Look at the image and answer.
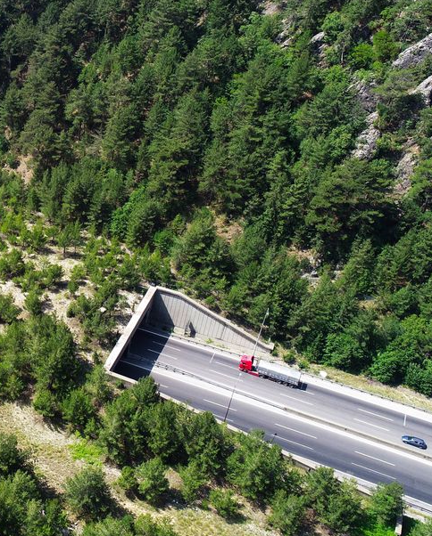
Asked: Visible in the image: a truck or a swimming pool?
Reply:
truck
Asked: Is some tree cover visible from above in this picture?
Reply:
Yes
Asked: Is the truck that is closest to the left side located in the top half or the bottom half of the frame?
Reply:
bottom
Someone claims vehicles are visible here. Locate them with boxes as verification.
[243,354,306,388]
[404,436,429,450]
